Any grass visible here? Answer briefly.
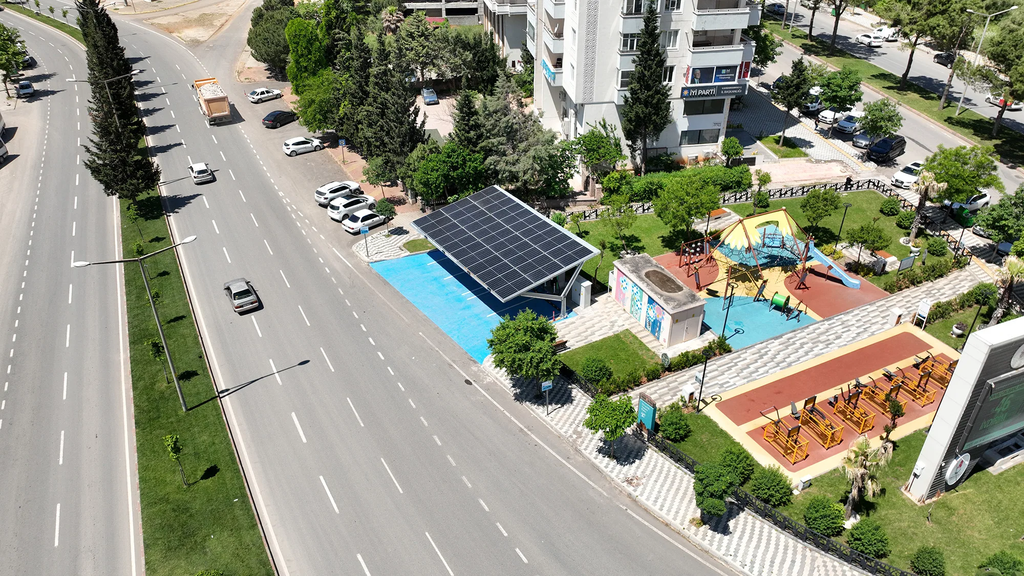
Yes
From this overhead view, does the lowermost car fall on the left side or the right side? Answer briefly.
left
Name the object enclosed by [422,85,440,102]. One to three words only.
car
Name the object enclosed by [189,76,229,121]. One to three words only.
truck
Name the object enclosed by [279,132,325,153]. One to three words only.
car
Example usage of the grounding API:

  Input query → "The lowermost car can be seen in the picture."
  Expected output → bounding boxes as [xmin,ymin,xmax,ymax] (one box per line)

[223,276,263,315]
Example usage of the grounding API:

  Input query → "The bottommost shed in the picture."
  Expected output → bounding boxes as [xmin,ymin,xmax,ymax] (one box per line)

[604,254,708,347]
